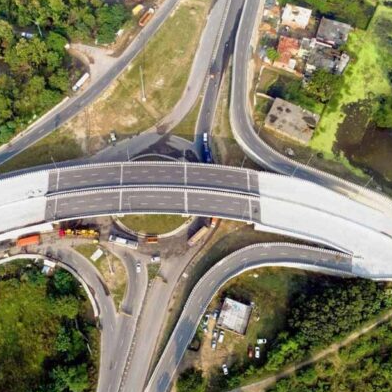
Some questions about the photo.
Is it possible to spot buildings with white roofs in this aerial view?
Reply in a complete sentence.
Yes, a building with a white roof appears in the view.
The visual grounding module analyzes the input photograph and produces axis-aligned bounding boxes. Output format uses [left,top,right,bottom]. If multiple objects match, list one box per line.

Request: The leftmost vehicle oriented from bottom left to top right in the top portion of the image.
[74,71,91,89]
